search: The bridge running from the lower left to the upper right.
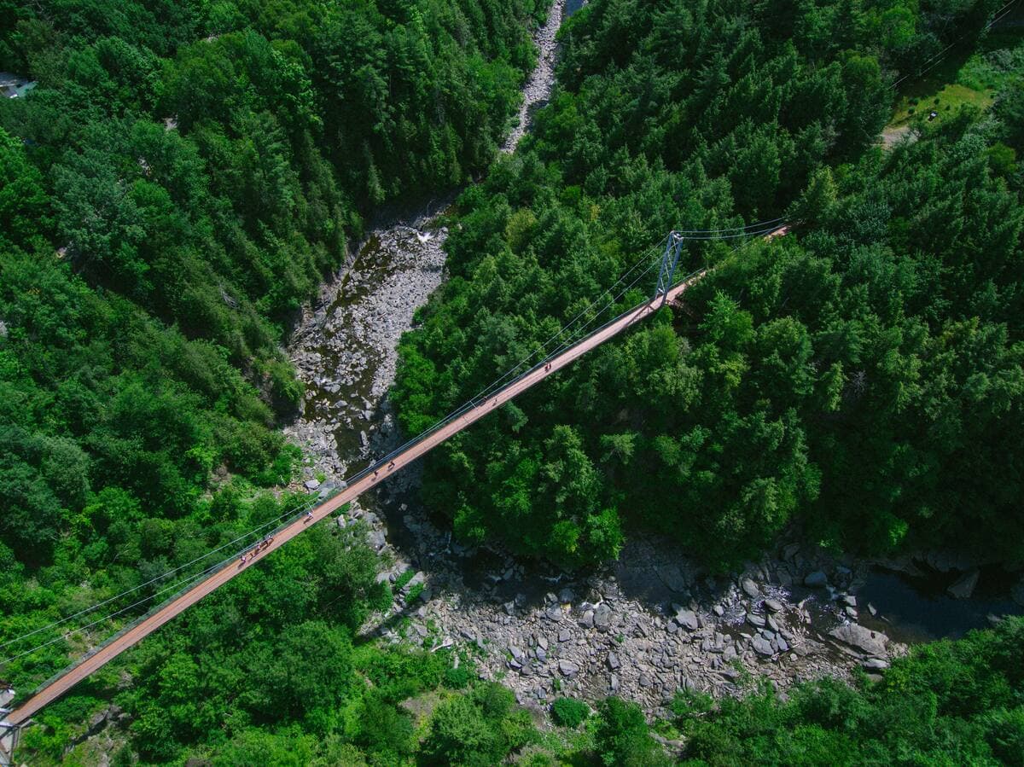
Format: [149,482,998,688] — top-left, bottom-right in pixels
[0,213,799,735]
